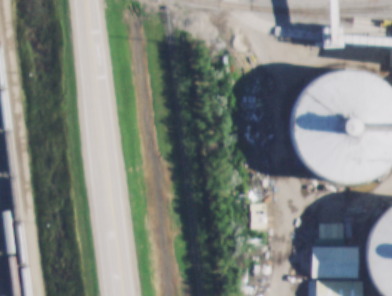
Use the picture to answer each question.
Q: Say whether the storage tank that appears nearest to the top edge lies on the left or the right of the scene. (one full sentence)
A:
You can find the storage tank that appears nearest to the top edge on the right side of the picture.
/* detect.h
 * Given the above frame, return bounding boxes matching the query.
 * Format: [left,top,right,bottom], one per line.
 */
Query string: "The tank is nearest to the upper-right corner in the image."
[288,67,392,184]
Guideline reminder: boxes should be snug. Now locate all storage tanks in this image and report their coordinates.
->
[362,204,392,296]
[288,67,392,184]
